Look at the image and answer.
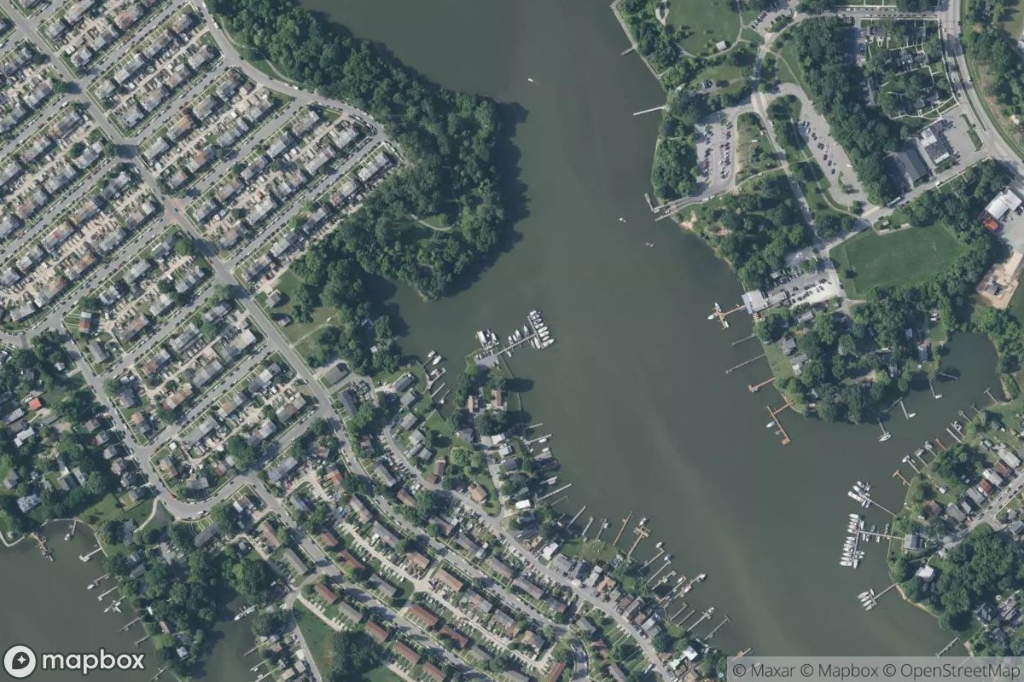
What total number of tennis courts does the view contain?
0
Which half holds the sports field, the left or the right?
right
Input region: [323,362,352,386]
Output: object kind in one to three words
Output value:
house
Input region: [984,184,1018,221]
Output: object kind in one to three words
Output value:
building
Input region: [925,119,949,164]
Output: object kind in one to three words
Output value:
building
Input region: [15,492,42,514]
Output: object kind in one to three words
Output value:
house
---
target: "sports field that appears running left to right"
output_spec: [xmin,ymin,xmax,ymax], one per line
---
[832,222,969,299]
